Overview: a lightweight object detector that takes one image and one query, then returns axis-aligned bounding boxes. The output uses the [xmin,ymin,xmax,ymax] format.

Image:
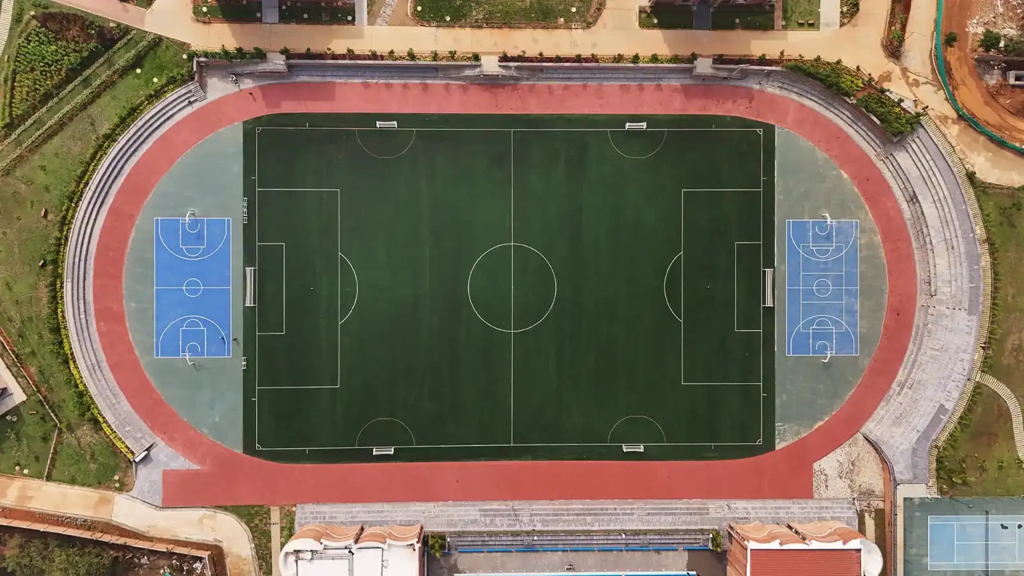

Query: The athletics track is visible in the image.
[93,83,919,506]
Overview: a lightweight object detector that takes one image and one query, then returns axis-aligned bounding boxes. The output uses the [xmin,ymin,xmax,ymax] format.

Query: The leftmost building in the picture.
[0,343,37,416]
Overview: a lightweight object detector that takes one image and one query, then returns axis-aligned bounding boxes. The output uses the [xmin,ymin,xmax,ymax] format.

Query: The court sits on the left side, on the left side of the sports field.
[124,123,243,452]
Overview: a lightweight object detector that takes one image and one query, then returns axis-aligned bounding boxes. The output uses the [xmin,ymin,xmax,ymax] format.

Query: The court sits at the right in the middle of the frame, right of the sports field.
[775,125,888,450]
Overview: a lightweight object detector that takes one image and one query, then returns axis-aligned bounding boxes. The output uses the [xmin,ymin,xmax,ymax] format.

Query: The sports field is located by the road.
[243,114,775,461]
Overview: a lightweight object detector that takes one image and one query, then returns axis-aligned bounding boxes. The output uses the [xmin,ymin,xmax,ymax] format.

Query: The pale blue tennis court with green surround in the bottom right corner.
[903,497,1024,576]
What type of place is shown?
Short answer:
sports ground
